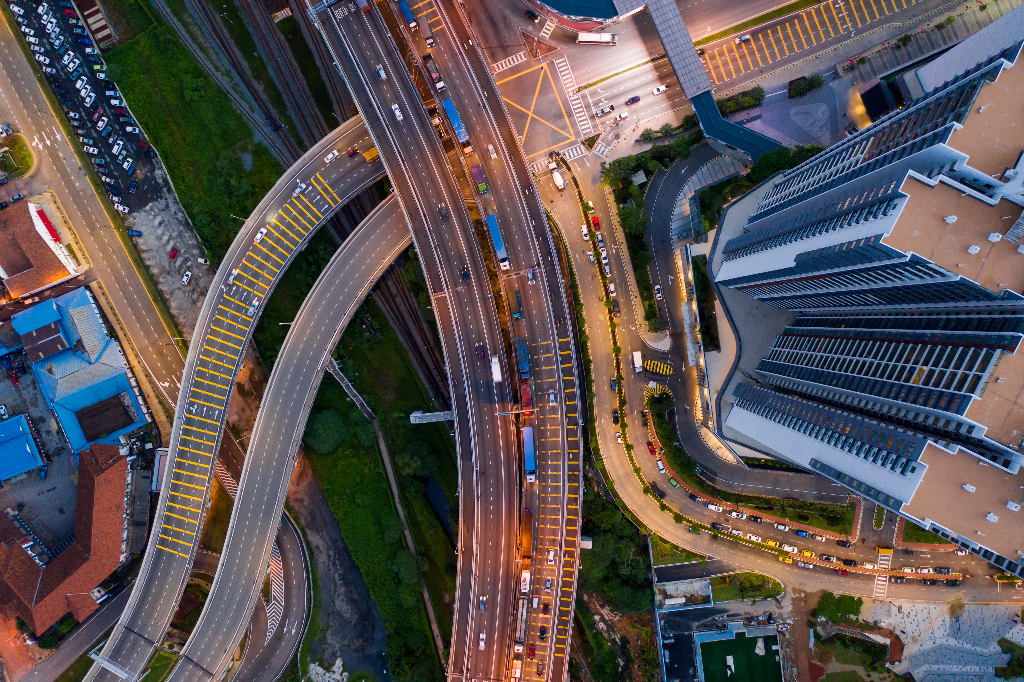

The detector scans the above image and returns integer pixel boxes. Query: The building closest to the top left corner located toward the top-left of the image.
[75,0,121,53]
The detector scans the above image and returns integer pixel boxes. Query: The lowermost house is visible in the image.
[692,618,783,682]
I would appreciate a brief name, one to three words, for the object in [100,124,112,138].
vehicle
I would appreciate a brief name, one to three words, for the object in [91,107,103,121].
vehicle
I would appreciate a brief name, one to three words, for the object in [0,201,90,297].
house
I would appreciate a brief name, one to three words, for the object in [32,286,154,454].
house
